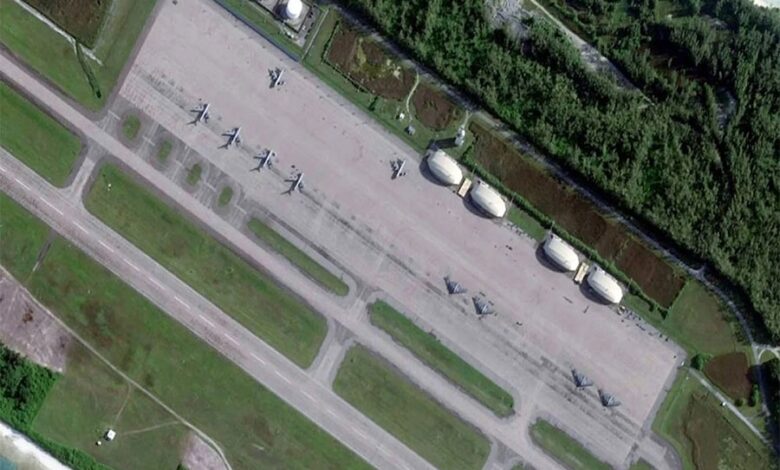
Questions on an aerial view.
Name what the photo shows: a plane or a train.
plane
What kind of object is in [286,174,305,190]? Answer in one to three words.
airplane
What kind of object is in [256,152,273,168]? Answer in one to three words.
airplane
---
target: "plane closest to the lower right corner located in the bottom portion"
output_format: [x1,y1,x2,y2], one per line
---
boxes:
[598,388,622,403]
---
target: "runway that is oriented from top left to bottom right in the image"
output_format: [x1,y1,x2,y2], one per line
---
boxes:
[0,147,433,470]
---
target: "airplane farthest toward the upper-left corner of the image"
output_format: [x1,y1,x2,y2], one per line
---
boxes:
[192,106,210,122]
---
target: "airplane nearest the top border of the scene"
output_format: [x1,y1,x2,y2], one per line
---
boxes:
[271,69,290,86]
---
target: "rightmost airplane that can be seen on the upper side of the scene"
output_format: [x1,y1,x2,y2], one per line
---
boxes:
[393,159,412,177]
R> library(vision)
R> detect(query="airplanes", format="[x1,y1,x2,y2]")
[571,369,594,385]
[256,152,273,168]
[393,159,412,177]
[444,277,468,291]
[286,174,305,190]
[224,129,241,145]
[192,106,210,122]
[473,297,496,312]
[598,388,622,403]
[271,69,290,86]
